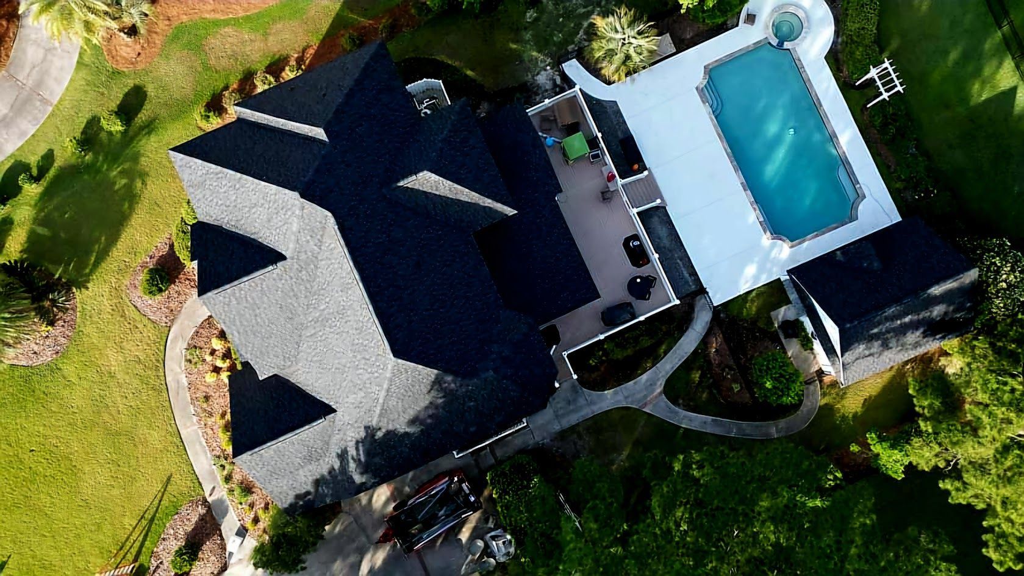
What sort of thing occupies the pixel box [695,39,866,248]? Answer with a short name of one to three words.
swimming pool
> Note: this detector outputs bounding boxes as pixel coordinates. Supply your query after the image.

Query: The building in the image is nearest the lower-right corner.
[781,209,975,388]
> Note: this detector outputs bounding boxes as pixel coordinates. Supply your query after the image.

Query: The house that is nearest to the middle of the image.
[167,41,602,513]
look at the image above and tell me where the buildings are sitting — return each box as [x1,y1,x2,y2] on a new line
[781,209,975,388]
[167,41,602,513]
